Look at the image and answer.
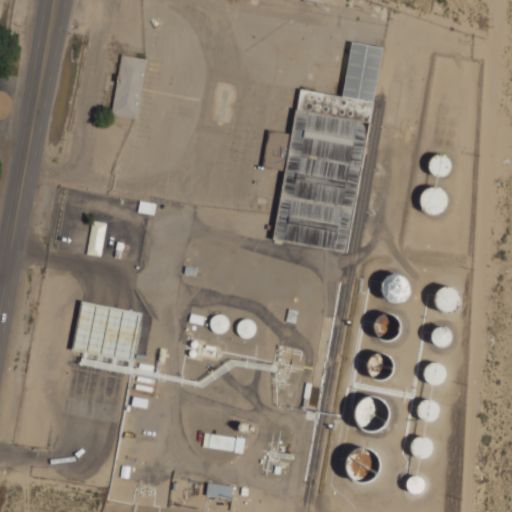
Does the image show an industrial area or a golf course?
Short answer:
industrial area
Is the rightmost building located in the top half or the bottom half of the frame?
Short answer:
top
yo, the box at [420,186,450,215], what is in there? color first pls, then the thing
white storage tank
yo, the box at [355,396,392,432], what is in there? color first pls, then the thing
white storage tank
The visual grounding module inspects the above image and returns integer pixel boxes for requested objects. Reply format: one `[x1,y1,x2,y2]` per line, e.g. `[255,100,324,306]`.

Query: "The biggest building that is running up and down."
[274,89,374,253]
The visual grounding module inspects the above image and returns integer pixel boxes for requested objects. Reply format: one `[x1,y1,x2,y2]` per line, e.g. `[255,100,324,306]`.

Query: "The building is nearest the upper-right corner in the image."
[343,42,384,99]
